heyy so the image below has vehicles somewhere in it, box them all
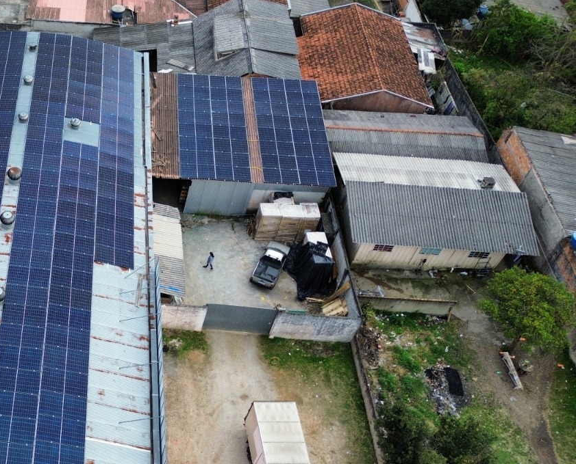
[245,399,316,464]
[257,236,293,292]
